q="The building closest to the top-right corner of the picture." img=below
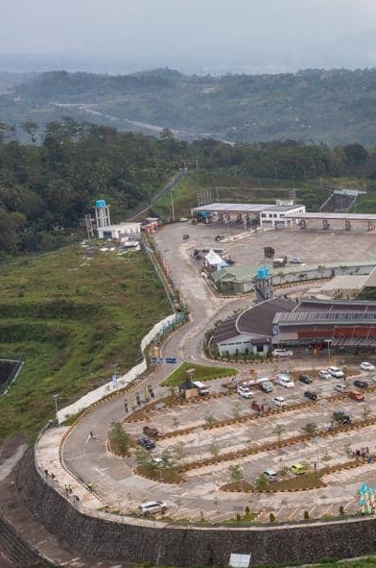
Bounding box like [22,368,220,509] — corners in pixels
[259,199,306,230]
